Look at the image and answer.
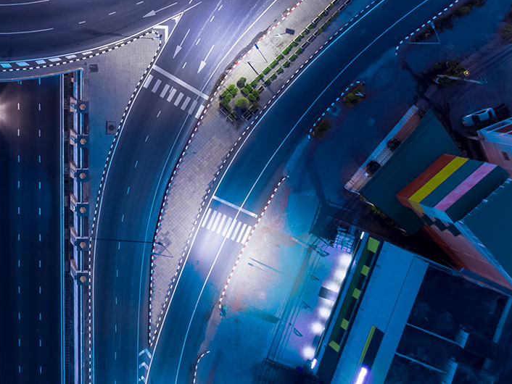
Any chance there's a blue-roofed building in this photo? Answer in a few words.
Yes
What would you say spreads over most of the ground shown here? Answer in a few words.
paved ground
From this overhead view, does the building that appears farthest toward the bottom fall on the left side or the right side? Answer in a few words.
right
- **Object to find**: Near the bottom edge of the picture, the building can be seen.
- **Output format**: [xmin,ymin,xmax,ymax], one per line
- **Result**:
[301,232,429,384]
